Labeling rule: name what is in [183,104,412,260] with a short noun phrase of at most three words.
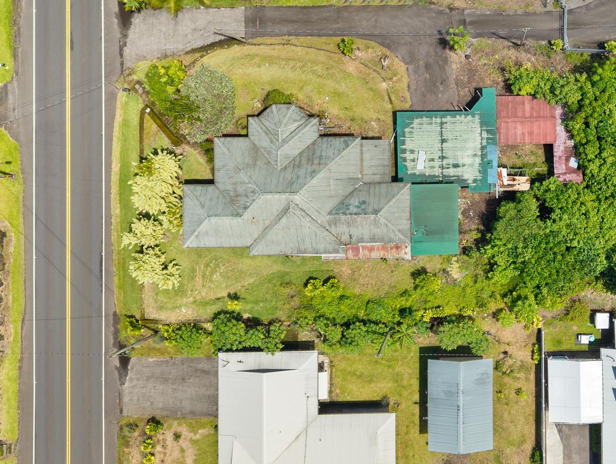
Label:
house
